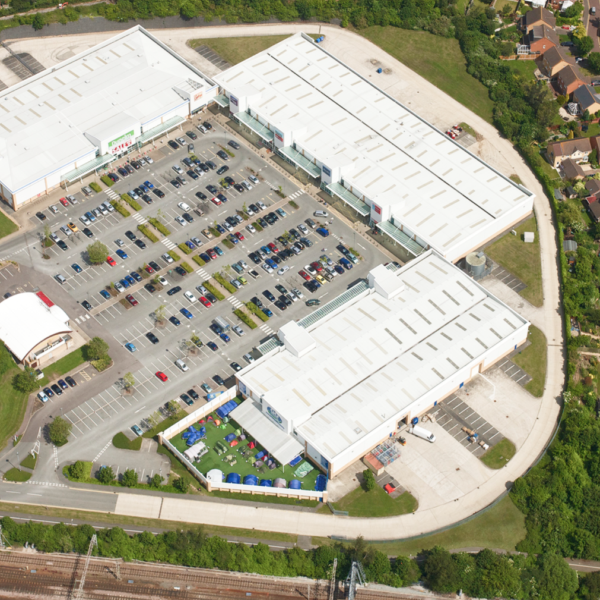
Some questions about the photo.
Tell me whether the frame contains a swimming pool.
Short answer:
No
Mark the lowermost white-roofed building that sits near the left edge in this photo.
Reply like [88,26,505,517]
[0,290,73,367]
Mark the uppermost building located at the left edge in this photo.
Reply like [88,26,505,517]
[0,24,219,210]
